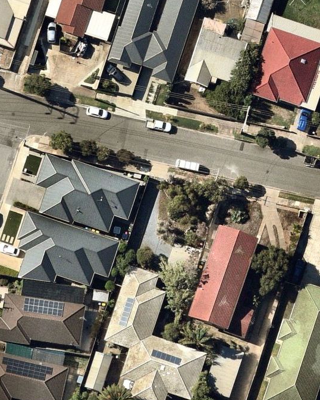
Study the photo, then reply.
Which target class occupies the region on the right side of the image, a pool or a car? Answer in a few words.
car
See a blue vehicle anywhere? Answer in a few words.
Yes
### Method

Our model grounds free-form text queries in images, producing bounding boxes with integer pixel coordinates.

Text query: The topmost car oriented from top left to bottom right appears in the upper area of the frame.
[105,64,123,84]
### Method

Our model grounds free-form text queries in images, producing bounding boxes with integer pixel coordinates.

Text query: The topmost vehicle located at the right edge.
[295,108,312,133]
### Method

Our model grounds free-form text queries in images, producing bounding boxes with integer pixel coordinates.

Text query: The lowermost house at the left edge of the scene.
[0,351,70,400]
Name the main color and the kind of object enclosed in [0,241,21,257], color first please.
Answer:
white car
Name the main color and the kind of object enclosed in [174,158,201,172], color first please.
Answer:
white vehicle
